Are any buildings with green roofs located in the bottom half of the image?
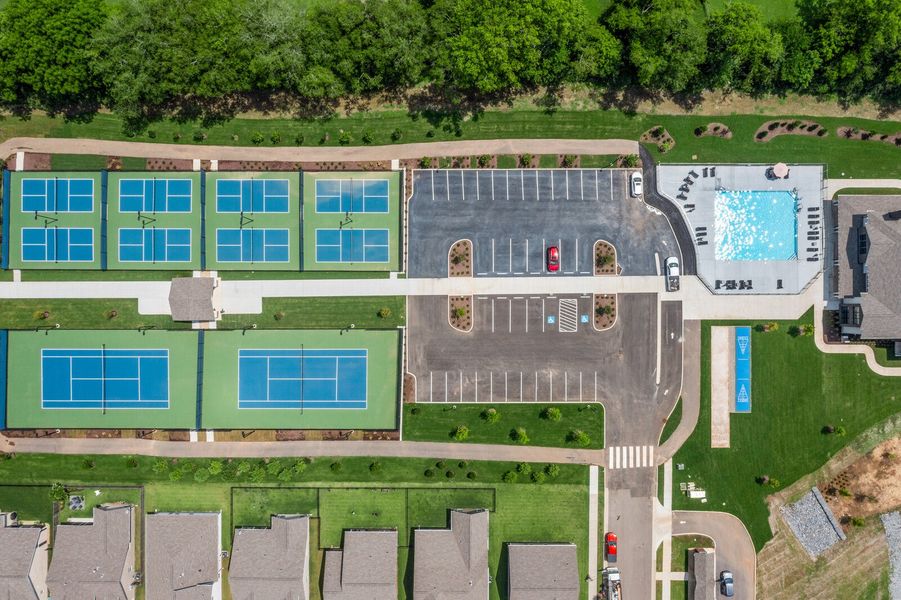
No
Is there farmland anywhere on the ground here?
No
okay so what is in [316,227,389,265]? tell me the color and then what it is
blue sports court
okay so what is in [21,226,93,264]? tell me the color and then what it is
blue sports court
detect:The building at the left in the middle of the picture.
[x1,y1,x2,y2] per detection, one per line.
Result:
[169,277,216,321]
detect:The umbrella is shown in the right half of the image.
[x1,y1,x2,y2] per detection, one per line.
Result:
[773,163,788,177]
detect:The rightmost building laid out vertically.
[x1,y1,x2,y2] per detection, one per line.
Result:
[830,194,901,358]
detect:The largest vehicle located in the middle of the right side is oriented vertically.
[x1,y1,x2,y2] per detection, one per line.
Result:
[666,257,681,292]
